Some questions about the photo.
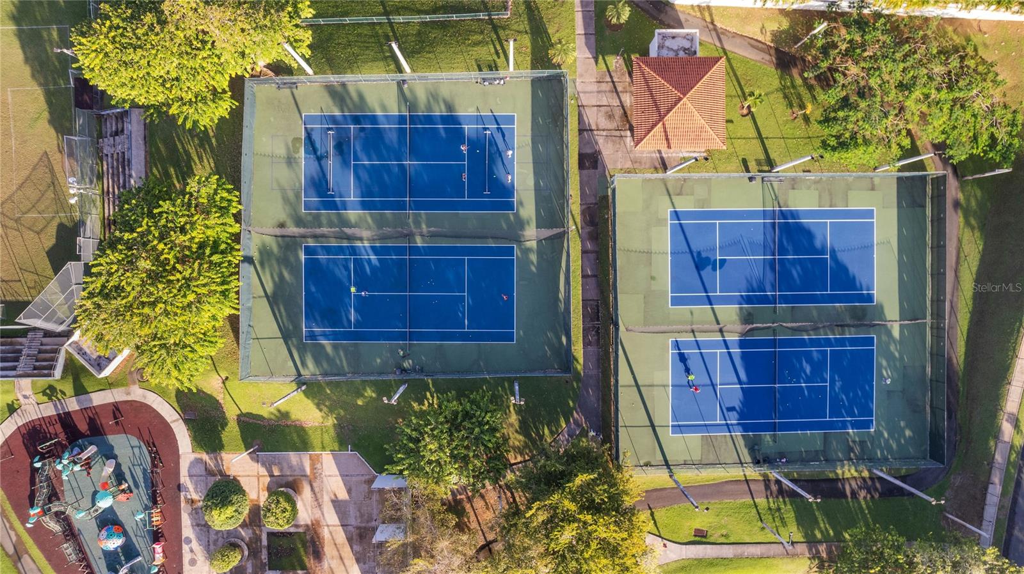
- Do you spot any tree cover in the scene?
Yes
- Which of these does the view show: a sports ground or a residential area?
sports ground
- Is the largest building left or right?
right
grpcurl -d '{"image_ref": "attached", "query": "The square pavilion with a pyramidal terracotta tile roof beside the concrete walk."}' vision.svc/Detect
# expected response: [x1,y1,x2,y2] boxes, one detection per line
[632,56,727,151]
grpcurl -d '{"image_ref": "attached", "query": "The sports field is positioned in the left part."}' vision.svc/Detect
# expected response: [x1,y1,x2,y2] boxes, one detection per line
[0,0,79,325]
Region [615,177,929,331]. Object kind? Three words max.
tennis court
